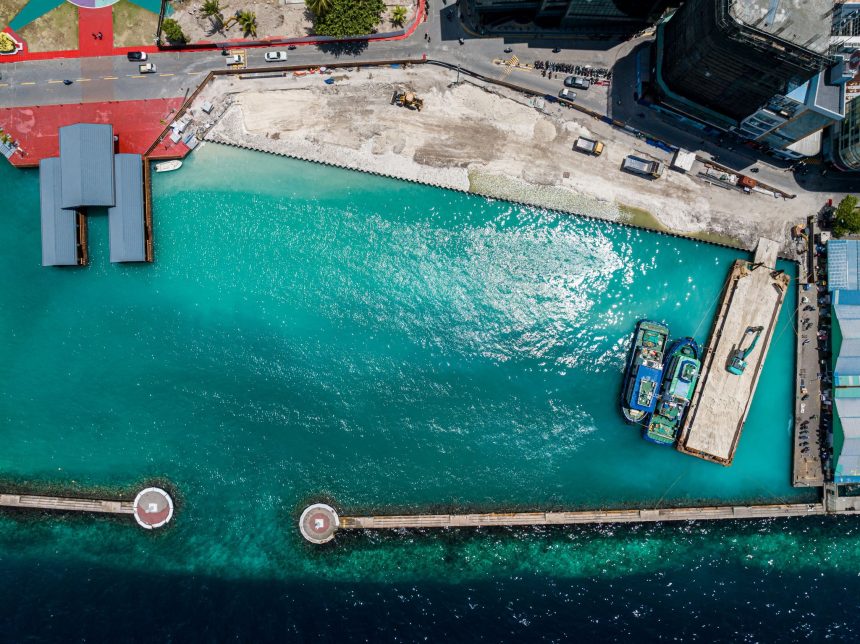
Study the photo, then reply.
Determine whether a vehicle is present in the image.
Yes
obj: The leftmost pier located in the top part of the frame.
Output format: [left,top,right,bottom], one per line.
[53,204,88,266]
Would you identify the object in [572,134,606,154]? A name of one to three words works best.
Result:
vehicle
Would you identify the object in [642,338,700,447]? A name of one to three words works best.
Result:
boat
